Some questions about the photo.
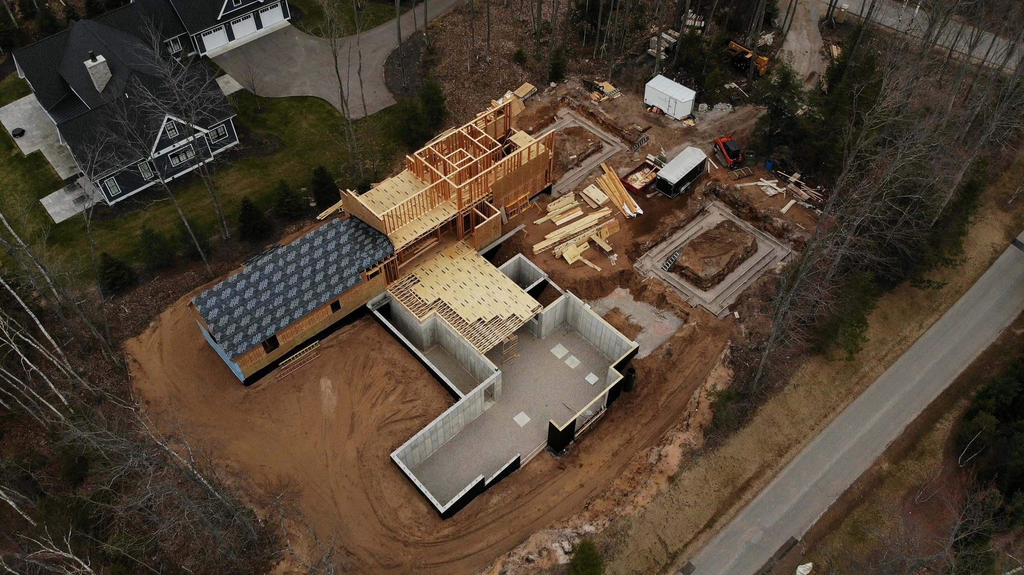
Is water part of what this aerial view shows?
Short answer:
No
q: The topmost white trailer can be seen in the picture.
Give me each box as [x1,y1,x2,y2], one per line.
[643,75,702,124]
